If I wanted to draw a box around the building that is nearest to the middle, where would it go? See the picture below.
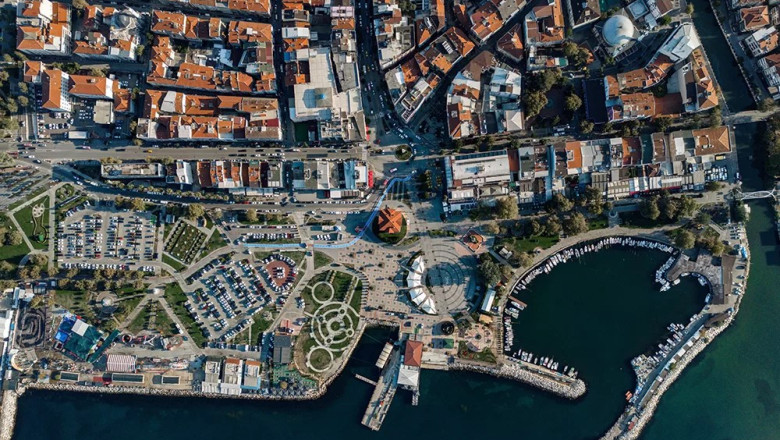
[378,209,404,234]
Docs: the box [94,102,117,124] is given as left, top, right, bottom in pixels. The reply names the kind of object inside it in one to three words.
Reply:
building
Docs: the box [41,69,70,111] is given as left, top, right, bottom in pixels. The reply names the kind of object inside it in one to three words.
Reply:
house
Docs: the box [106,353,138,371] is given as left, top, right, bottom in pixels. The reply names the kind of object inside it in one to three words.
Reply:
tent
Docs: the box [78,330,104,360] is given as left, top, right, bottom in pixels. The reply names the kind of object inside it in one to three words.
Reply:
tent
